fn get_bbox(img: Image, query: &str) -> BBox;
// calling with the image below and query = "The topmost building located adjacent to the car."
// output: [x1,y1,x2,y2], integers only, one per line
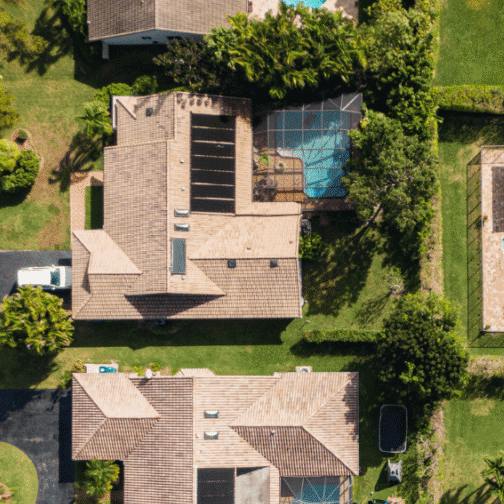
[71,88,302,319]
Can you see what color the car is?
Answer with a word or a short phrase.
white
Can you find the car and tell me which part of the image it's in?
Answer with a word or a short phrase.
left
